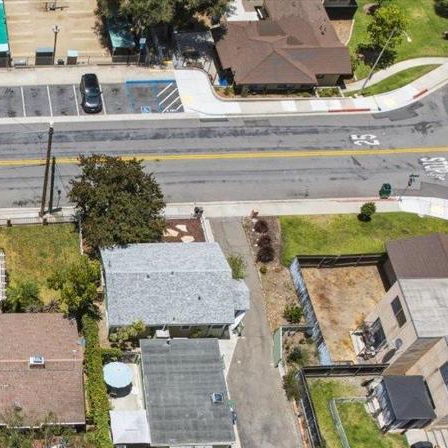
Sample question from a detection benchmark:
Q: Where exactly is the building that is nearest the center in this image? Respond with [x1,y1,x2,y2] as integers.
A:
[100,242,249,342]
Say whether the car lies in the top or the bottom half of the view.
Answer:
top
